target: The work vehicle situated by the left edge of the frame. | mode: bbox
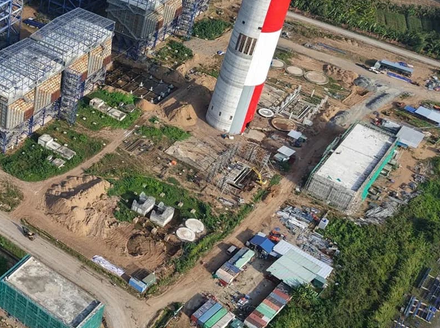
[16,226,37,239]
